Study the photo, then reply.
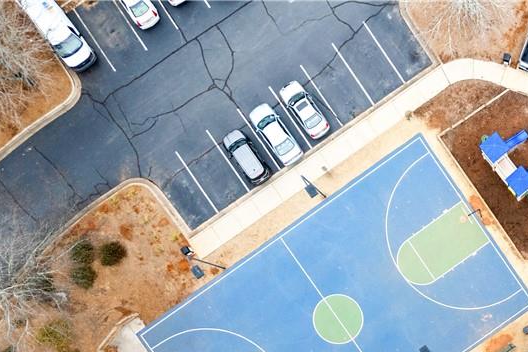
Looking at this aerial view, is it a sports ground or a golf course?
sports ground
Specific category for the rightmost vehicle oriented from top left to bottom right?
automobile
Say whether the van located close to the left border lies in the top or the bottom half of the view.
top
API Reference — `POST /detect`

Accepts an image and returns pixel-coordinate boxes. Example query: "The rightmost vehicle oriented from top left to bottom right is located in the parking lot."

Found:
[281,80,331,144]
